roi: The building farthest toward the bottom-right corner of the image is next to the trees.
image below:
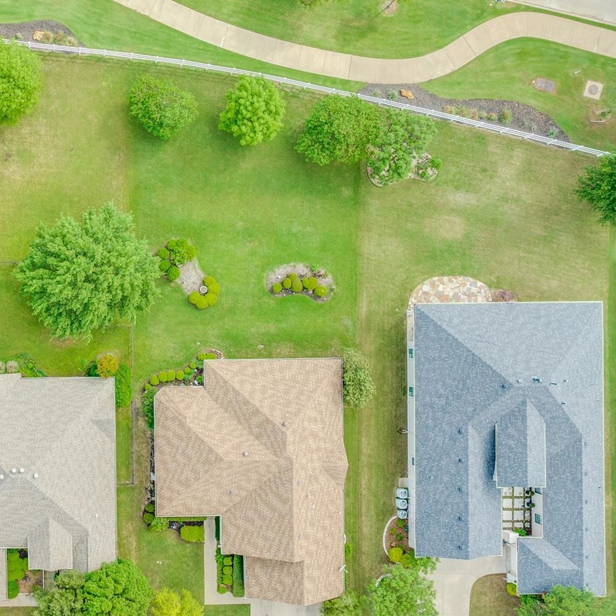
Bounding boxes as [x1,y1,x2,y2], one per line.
[409,303,604,600]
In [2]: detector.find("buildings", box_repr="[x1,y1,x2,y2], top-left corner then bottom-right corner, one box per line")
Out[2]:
[154,358,348,608]
[0,373,117,603]
[409,303,604,600]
